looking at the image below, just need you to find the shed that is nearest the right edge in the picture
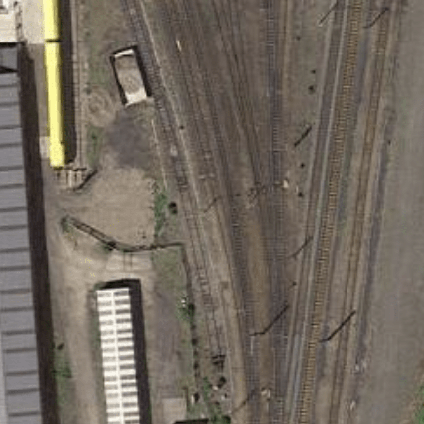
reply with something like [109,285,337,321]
[98,286,143,424]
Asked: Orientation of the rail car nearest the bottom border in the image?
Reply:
up and down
